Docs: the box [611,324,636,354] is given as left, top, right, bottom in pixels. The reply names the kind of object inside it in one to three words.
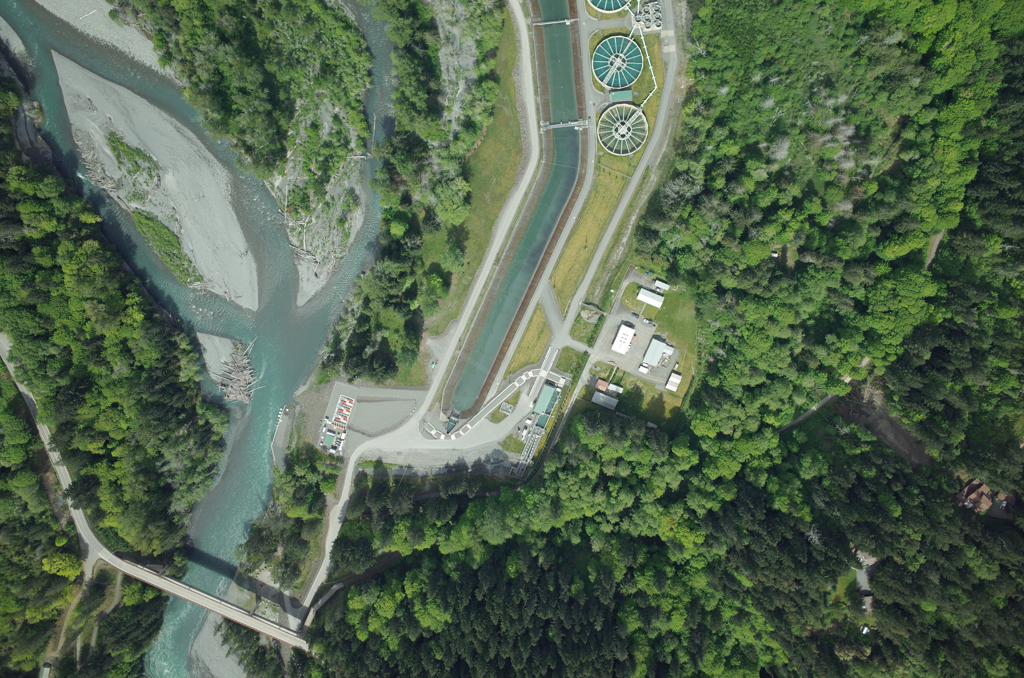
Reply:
building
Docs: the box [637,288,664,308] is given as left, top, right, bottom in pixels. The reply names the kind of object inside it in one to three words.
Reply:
house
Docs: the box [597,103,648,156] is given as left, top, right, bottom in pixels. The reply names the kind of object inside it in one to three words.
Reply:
storage tank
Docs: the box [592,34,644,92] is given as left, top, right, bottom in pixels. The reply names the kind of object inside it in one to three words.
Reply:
storage tank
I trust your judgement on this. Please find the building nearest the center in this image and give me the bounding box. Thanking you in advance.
[533,383,554,415]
